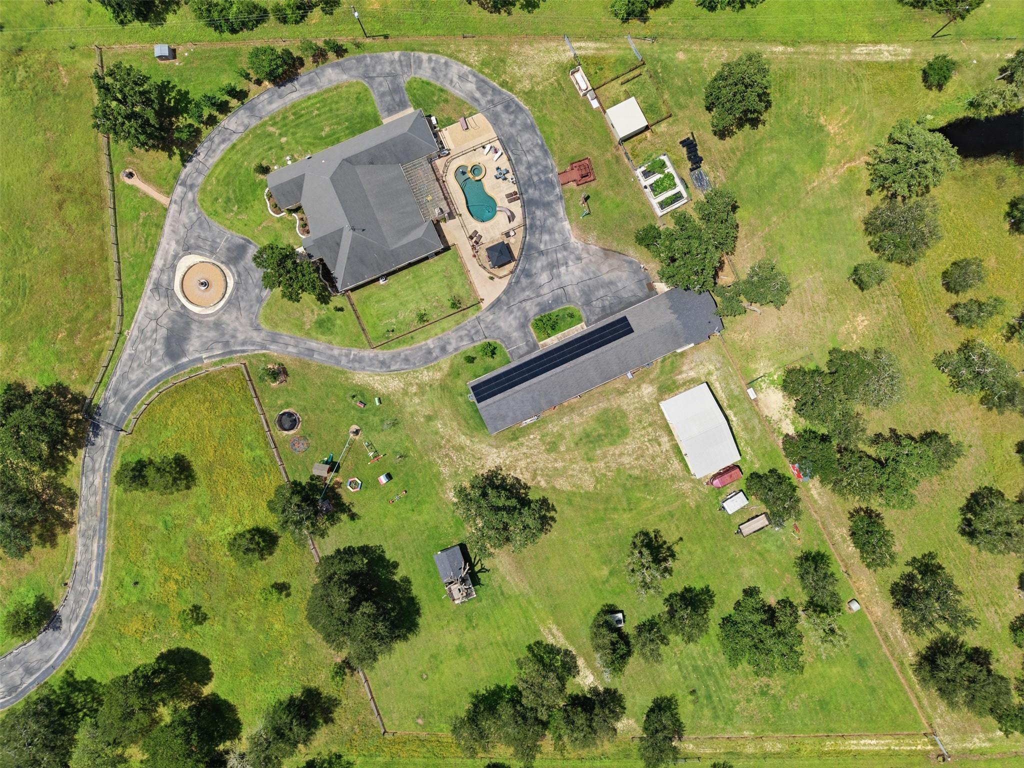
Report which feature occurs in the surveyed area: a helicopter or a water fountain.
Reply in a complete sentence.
Visible in the photo is a water fountain.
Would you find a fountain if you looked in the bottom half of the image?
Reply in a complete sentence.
No, no fountain can be made out in the bottom half of the image.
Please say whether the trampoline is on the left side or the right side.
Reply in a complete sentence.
You can find the trampoline on the left side of the picture.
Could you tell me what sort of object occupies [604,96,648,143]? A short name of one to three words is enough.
shed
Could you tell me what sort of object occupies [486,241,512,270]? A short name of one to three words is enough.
gazebo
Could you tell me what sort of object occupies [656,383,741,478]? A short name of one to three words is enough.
barn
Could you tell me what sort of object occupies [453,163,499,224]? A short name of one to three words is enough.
swimming pool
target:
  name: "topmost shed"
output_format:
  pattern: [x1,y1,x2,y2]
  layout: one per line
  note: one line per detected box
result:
[150,40,169,60]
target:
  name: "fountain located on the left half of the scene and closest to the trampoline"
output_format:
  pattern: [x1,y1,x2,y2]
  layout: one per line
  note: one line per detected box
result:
[180,261,227,307]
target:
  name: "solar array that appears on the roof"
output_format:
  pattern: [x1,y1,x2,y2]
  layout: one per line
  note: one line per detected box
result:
[471,316,634,404]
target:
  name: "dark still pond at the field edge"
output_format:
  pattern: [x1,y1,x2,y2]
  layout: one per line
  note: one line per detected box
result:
[930,106,1024,169]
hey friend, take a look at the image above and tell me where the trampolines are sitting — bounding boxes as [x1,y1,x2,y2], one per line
[273,411,299,433]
